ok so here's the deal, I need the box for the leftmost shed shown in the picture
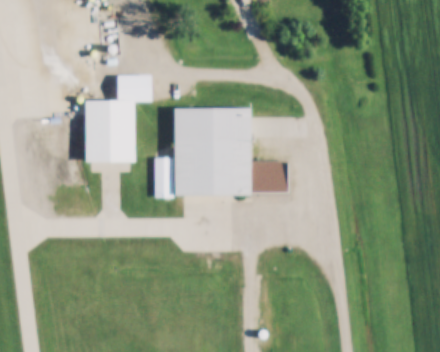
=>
[84,75,151,162]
